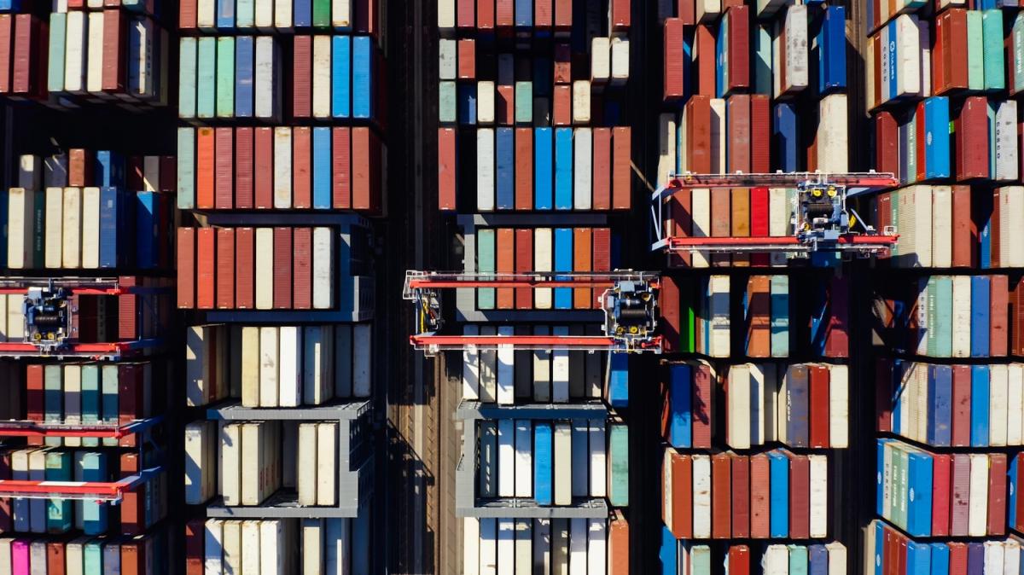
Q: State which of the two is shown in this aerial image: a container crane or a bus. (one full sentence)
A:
Visible in the photo is a container crane.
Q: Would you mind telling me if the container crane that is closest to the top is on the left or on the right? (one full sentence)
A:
You can find the container crane that is closest to the top on the right side of the picture.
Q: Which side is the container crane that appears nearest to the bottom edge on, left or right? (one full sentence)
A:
You can find the container crane that appears nearest to the bottom edge on the left side of the picture.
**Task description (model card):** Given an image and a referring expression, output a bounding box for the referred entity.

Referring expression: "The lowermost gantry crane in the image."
[0,396,191,505]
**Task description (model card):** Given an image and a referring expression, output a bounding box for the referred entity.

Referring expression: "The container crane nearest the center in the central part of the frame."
[403,268,662,362]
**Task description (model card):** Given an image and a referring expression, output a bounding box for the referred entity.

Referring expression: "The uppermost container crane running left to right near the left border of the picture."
[0,274,190,364]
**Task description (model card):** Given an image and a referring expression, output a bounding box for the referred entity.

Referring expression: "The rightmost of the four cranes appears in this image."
[642,168,900,264]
